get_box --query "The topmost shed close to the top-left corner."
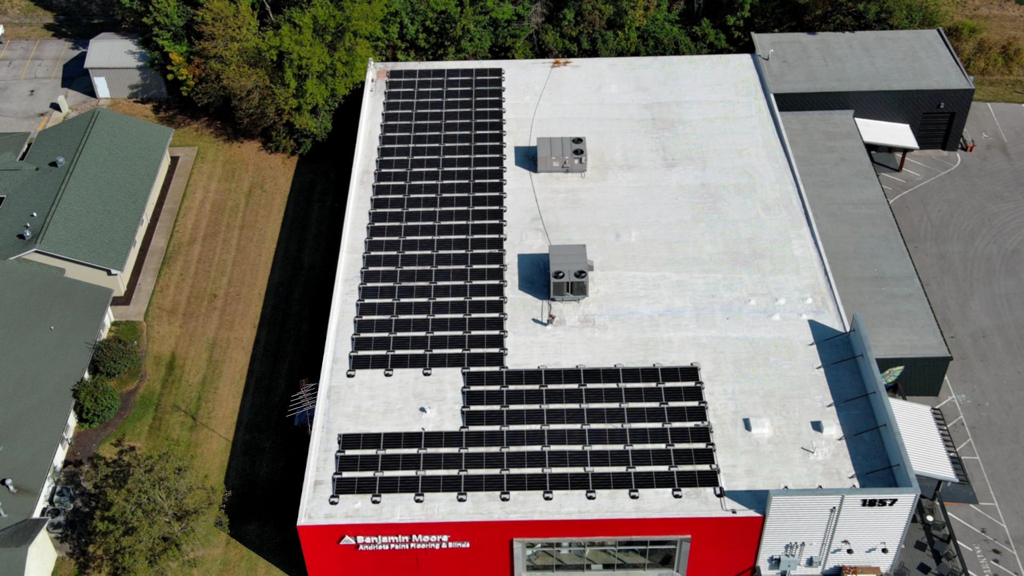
[83,31,178,98]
